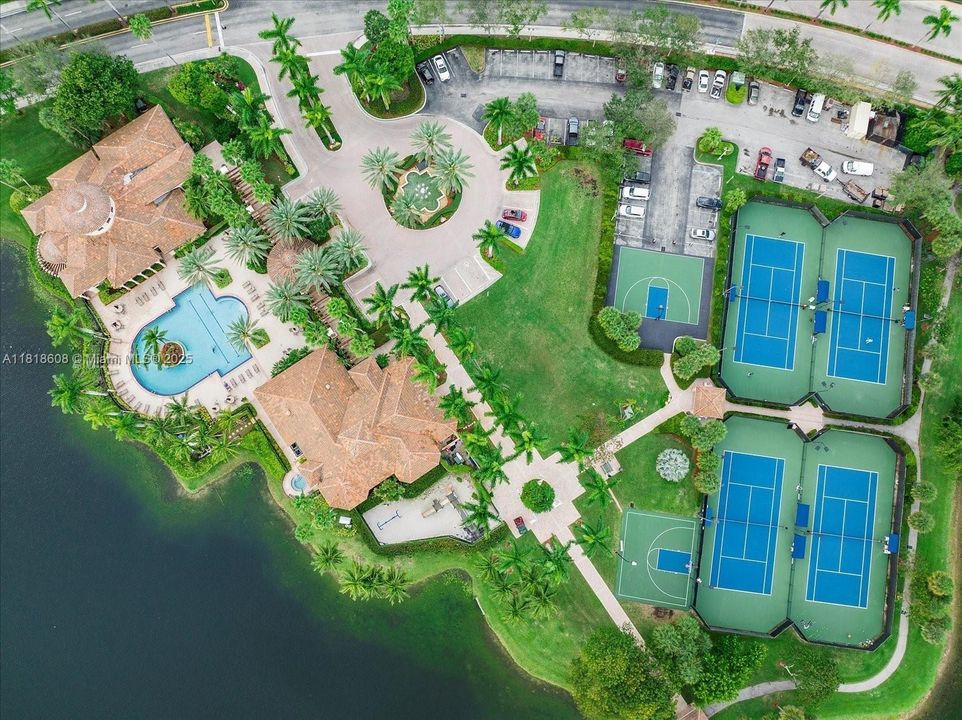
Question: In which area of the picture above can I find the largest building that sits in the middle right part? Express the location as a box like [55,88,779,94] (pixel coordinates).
[689,386,727,417]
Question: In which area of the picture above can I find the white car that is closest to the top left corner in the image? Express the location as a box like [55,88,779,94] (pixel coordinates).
[434,54,450,83]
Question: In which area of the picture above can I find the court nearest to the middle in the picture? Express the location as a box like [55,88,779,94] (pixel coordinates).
[605,244,715,353]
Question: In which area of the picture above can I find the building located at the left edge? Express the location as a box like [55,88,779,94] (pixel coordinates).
[20,103,209,298]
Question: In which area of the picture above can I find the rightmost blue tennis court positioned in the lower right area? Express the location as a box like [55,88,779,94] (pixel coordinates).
[806,464,882,609]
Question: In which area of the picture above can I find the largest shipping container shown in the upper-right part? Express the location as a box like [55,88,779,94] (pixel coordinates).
[843,101,872,145]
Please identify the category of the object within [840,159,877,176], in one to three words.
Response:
vehicle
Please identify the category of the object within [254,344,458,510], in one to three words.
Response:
building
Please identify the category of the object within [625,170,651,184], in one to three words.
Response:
car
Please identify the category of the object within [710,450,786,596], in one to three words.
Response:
tennis court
